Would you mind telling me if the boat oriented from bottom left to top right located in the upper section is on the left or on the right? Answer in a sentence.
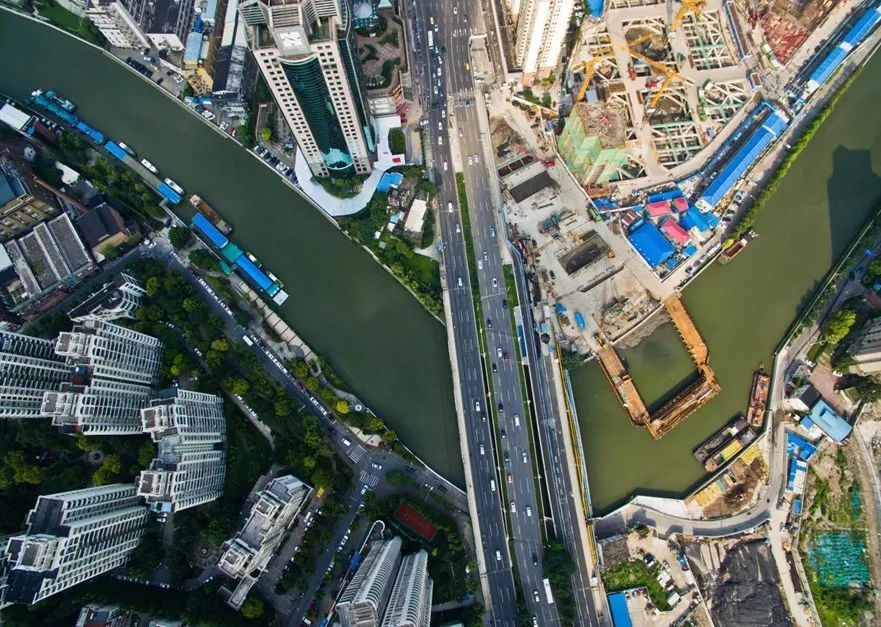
The boat oriented from bottom left to top right located in the upper section is on the right side of the image.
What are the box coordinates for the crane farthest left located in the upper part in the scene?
[568,30,657,102]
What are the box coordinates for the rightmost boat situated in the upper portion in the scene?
[722,231,757,262]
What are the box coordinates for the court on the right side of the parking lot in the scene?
[385,495,444,550]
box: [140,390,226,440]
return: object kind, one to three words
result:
building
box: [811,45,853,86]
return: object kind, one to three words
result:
shed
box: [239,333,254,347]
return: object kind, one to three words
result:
vehicle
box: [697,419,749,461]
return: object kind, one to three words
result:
ship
